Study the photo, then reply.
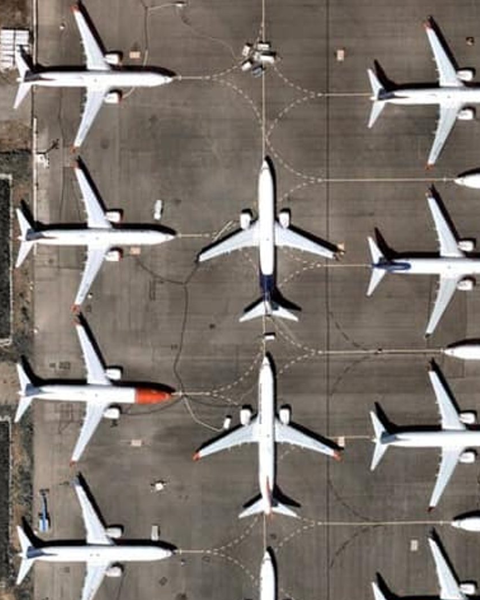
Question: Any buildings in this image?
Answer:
No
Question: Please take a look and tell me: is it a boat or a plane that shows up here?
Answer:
plane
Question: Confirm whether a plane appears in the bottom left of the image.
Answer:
Yes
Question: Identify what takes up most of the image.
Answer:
paved ground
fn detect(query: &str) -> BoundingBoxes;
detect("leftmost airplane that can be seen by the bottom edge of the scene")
[14,481,174,600]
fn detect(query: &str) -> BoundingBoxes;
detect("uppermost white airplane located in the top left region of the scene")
[14,6,174,153]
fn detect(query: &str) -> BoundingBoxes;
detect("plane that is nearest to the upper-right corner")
[367,23,480,171]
